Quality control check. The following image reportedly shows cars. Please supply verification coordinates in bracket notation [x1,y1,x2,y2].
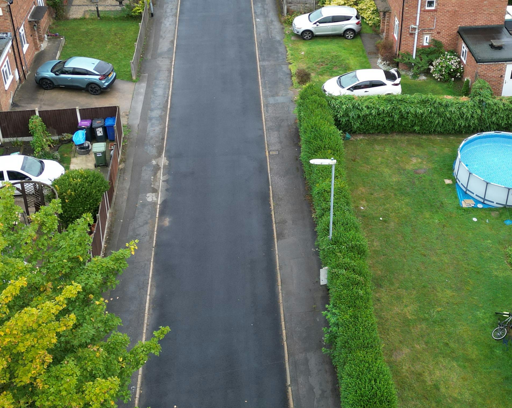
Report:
[288,4,363,39]
[35,52,120,93]
[0,152,64,195]
[320,64,405,97]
